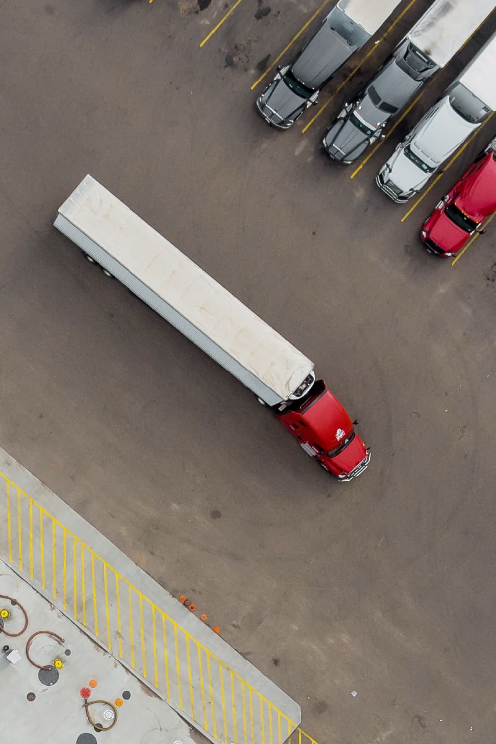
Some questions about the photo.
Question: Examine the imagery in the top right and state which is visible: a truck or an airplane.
truck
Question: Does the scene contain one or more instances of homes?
No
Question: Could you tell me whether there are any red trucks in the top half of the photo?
Yes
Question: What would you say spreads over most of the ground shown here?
paved ground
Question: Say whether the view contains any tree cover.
No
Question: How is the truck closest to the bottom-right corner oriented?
at an angle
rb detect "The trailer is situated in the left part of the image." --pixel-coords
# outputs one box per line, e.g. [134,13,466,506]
[51,174,314,407]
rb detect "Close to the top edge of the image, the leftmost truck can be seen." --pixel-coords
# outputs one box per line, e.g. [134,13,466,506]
[259,20,361,131]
